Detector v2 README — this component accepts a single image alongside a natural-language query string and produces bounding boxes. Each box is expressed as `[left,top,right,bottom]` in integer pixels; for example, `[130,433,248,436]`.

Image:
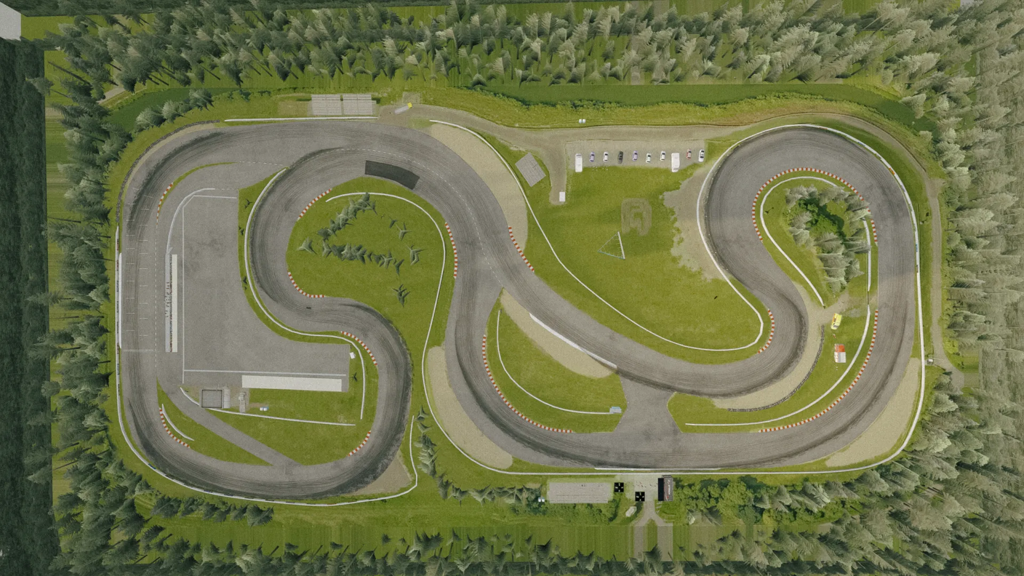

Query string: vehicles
[618,152,623,163]
[590,152,595,162]
[646,153,651,163]
[575,154,582,173]
[686,150,691,159]
[395,102,413,115]
[831,314,842,328]
[603,152,608,162]
[699,150,704,161]
[632,151,638,161]
[660,151,666,161]
[834,343,846,361]
[670,152,680,173]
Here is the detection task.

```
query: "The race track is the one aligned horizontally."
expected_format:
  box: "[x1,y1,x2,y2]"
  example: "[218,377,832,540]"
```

[121,121,915,500]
